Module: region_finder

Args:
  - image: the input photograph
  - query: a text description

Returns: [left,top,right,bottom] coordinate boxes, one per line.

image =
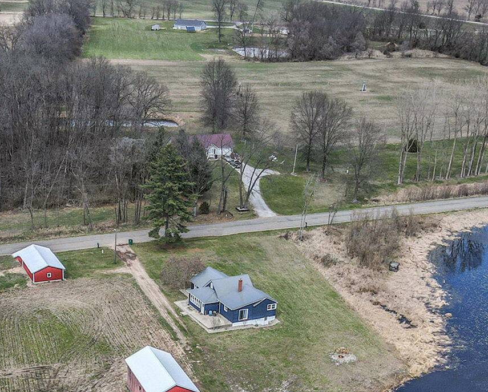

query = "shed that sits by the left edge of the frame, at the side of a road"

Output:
[12,244,65,283]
